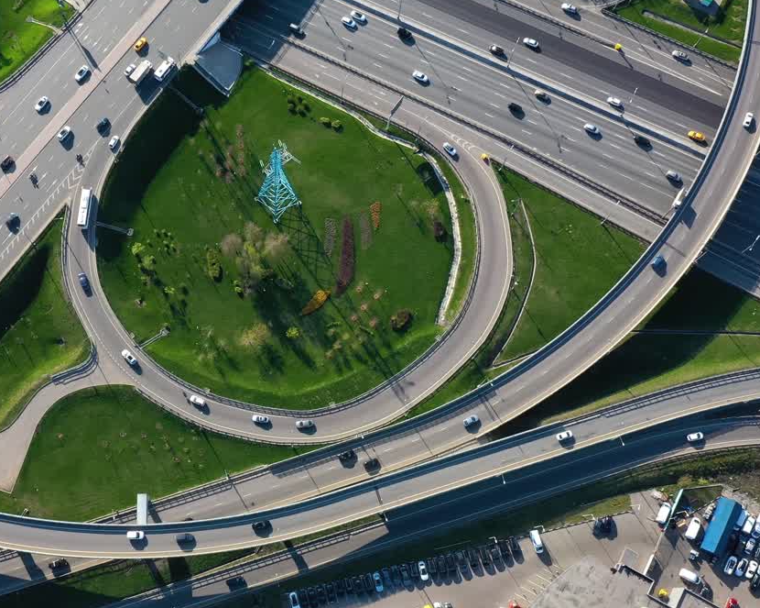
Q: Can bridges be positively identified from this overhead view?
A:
Yes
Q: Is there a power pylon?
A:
Yes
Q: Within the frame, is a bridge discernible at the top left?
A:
Yes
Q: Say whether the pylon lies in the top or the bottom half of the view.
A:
top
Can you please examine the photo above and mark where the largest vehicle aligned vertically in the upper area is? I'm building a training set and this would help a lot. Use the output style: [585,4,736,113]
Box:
[74,185,93,235]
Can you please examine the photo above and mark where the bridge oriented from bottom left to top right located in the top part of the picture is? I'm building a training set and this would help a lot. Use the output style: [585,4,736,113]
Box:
[552,0,760,373]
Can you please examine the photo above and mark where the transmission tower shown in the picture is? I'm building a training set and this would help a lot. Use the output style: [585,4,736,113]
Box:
[254,142,301,222]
